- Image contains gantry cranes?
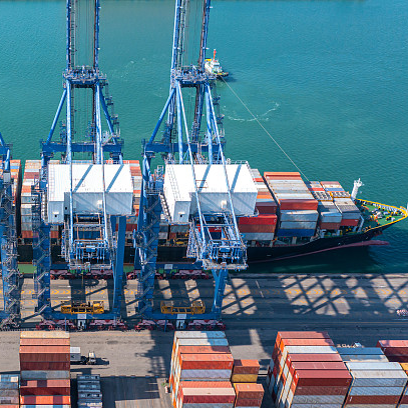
Yes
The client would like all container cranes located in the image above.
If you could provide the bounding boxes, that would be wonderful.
[0,112,25,327]
[129,0,260,328]
[31,0,138,328]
